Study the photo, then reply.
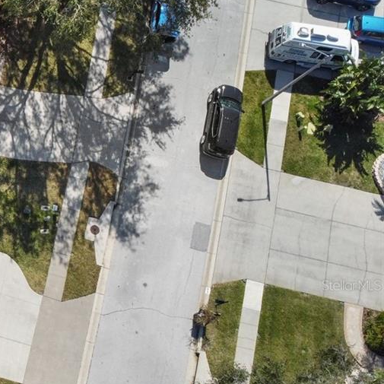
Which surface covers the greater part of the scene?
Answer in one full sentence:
The scene is dominated by paved ground.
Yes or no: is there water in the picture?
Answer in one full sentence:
No, the picture contains no water.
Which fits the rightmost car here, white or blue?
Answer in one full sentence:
The rightmost car looks blue in the image.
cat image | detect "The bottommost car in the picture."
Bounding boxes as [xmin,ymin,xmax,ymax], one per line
[196,83,246,164]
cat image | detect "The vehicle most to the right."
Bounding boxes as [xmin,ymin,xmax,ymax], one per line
[348,14,384,51]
